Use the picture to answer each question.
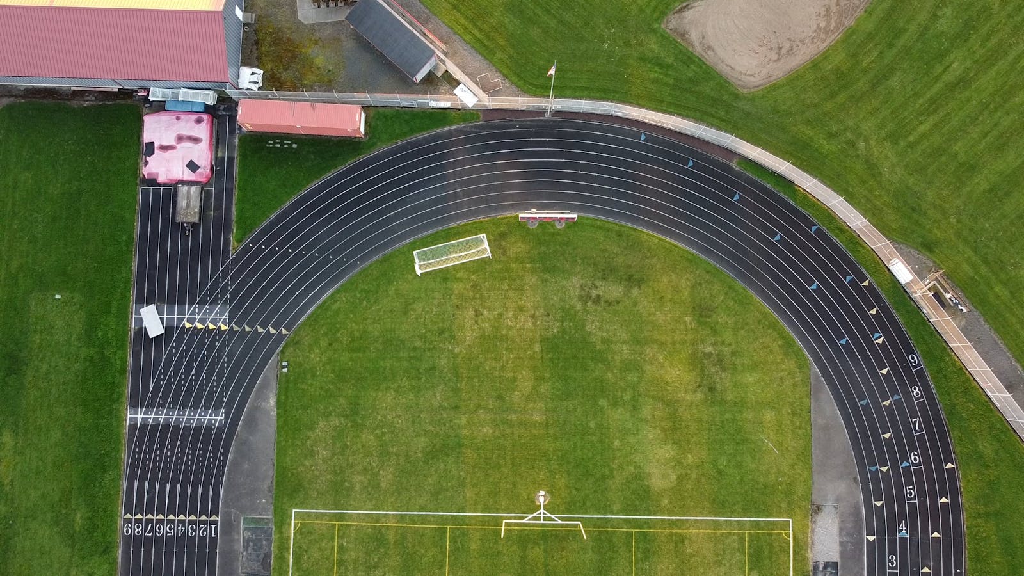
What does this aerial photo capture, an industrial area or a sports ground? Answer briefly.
sports ground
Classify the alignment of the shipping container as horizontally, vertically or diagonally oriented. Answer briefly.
horizontally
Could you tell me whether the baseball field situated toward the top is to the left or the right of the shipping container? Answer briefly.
on the right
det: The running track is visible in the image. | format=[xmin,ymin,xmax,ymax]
[115,101,968,576]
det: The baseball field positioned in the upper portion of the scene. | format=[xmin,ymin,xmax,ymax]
[428,0,1024,366]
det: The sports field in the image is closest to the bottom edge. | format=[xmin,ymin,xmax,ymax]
[271,216,812,576]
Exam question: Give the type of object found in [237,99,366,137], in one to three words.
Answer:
shipping container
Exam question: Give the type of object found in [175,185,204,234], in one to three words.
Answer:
trailer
